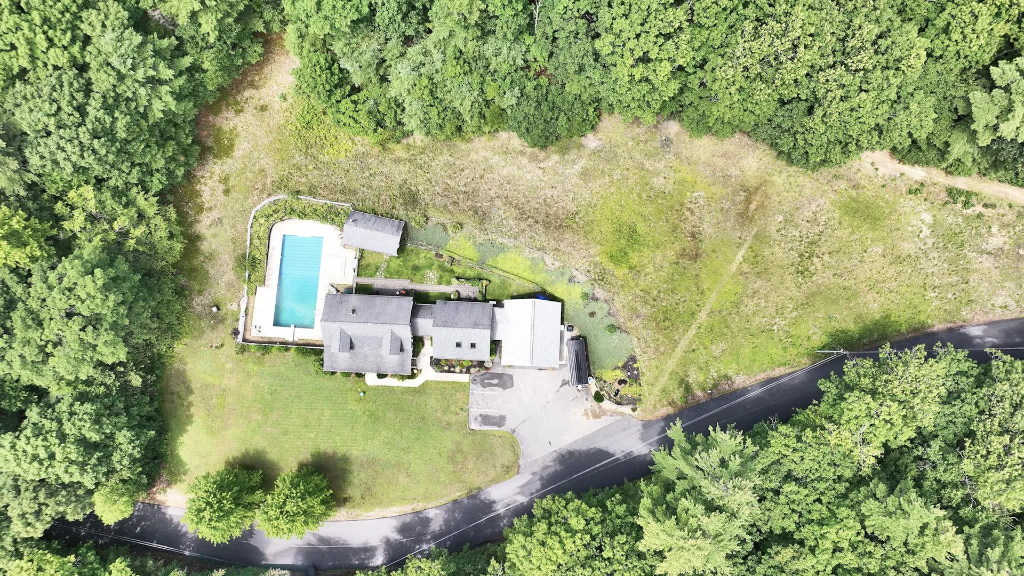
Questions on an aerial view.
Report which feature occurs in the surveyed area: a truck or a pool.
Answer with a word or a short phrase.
pool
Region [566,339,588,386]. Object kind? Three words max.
shed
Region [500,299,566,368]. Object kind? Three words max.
building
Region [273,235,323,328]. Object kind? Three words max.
swimming pool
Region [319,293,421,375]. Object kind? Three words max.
house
